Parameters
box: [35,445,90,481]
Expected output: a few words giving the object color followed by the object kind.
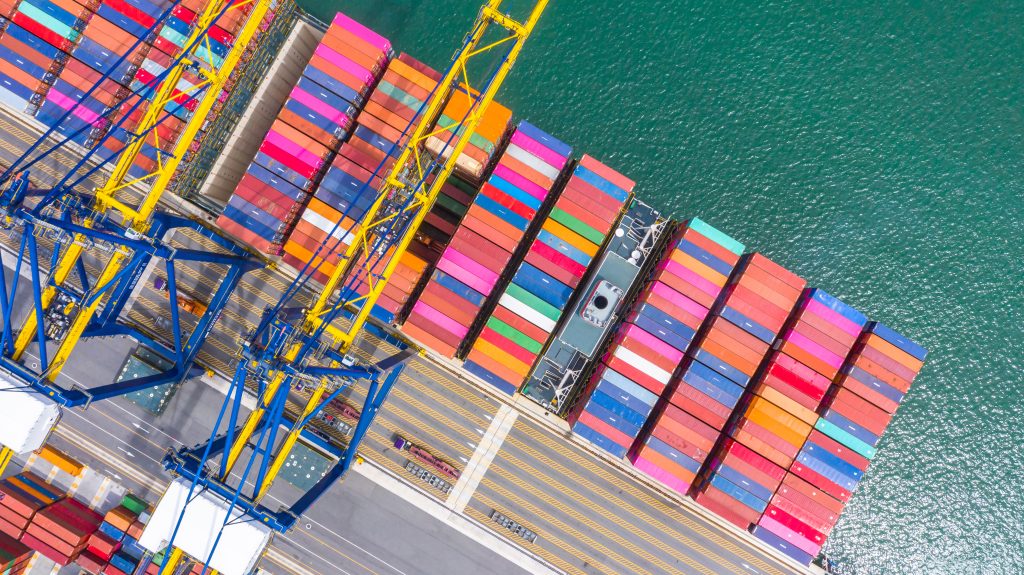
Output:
orange shipping container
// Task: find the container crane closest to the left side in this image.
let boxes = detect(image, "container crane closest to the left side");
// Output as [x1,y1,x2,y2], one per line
[0,0,271,476]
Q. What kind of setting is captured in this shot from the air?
port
